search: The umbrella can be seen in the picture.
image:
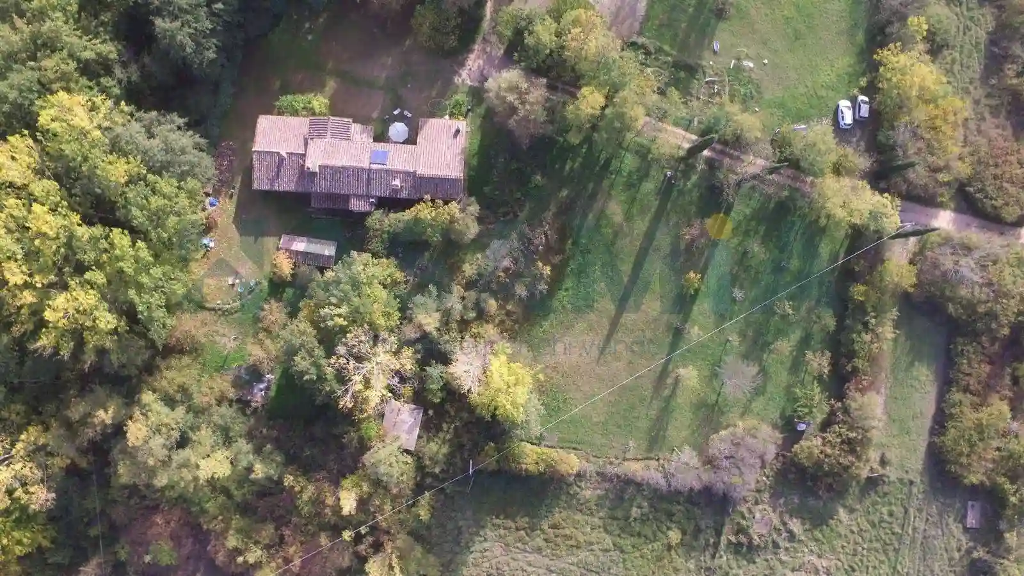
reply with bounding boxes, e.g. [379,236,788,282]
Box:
[389,123,408,142]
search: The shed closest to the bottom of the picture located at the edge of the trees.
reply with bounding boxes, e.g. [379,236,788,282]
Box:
[381,399,426,450]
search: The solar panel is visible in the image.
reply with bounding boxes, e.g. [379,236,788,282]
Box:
[370,149,389,167]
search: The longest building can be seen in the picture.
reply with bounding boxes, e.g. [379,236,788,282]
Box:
[252,114,468,214]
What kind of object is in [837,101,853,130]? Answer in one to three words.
car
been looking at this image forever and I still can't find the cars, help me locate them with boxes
[854,96,869,121]
[837,101,853,130]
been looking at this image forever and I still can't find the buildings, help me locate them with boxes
[280,235,339,267]
[252,114,468,214]
[381,399,426,450]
